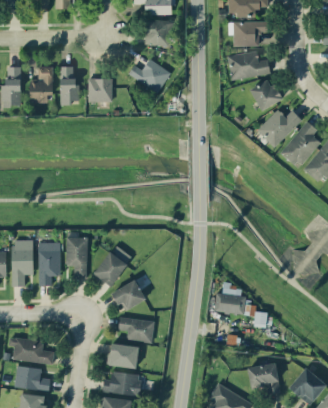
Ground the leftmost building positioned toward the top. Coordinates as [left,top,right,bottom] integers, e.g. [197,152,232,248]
[0,66,20,106]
